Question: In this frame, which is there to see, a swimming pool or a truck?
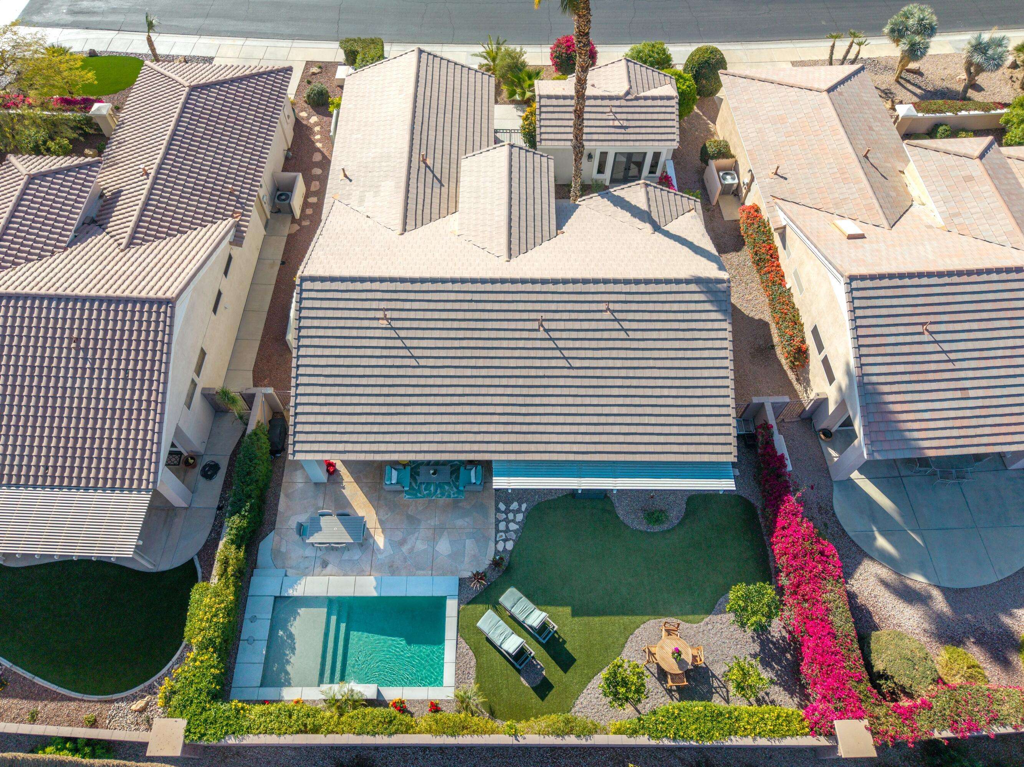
swimming pool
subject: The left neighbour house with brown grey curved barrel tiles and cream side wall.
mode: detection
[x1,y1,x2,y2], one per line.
[0,58,301,508]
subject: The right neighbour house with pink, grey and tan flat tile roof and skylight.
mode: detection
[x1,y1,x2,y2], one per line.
[717,61,1024,480]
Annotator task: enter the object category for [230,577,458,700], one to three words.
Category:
swimming pool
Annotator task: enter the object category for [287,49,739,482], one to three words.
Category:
house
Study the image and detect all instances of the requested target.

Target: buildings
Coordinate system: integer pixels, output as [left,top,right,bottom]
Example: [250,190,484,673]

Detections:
[287,49,739,482]
[0,58,301,508]
[717,61,1024,480]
